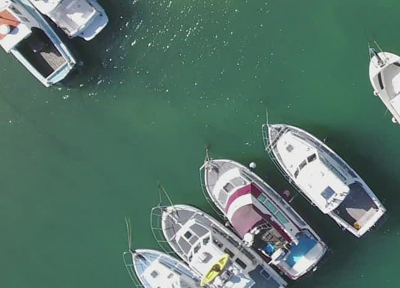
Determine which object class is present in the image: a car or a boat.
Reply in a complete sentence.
There is a boat in the scene.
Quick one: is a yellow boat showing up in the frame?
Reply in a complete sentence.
Yes, the photo shows a yellow boat.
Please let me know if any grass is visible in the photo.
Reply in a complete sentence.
No, grass can't be seen anywhere here.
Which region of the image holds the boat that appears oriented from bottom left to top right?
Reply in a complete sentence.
The boat that appears oriented from bottom left to top right sits in the bottom section of the image.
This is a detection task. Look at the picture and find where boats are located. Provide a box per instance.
[26,0,110,42]
[200,254,229,287]
[155,203,285,288]
[371,48,400,121]
[199,158,327,280]
[0,0,79,87]
[123,247,207,288]
[262,122,386,237]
